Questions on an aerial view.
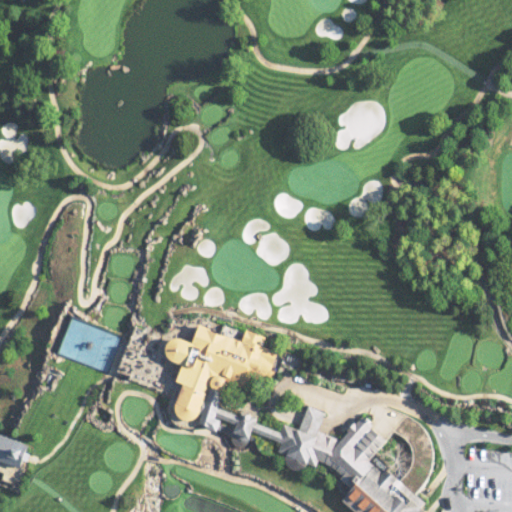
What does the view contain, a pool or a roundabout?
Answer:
pool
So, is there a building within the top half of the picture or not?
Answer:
No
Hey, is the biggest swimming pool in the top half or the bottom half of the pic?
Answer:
bottom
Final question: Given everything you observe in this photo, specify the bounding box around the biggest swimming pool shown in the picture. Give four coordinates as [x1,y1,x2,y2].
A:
[59,318,121,374]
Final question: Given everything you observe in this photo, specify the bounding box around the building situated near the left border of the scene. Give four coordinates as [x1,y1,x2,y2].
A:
[0,432,30,470]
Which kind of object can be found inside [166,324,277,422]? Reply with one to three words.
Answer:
building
